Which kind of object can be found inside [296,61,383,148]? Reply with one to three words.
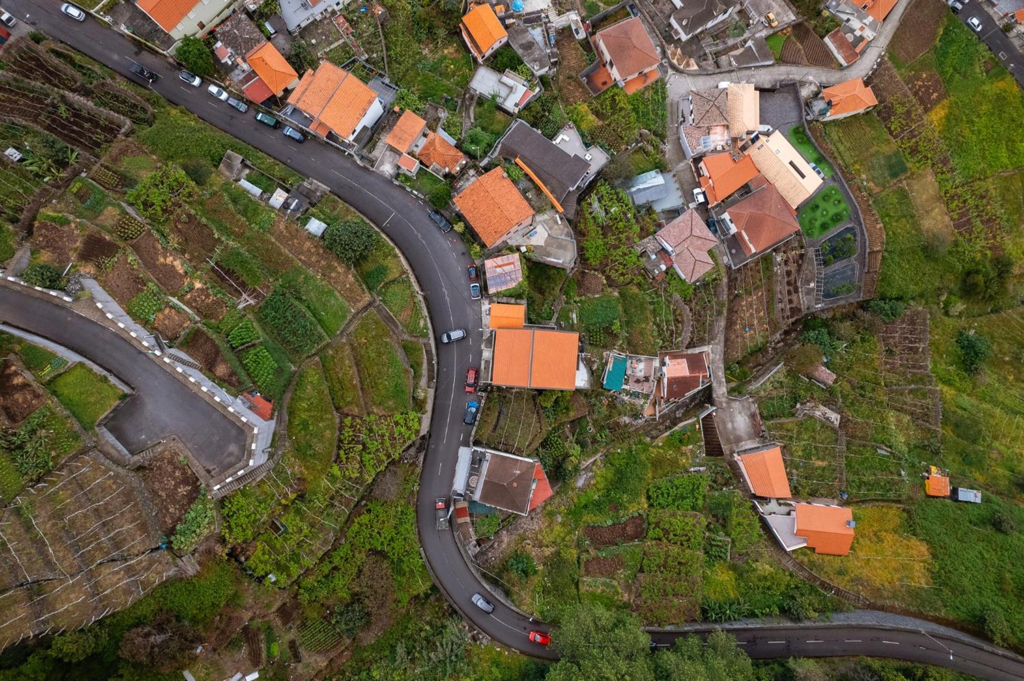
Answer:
house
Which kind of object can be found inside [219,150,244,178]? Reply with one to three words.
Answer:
shed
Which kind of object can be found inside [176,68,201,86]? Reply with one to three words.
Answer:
car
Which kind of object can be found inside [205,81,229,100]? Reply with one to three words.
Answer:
car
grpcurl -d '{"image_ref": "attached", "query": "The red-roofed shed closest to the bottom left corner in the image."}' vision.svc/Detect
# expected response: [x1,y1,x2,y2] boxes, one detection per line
[241,393,275,420]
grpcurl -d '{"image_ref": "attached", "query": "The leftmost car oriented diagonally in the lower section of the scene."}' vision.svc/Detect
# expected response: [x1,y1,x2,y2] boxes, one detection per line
[470,595,494,616]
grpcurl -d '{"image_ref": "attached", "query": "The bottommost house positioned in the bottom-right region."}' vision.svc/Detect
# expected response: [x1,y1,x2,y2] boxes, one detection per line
[786,500,855,556]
